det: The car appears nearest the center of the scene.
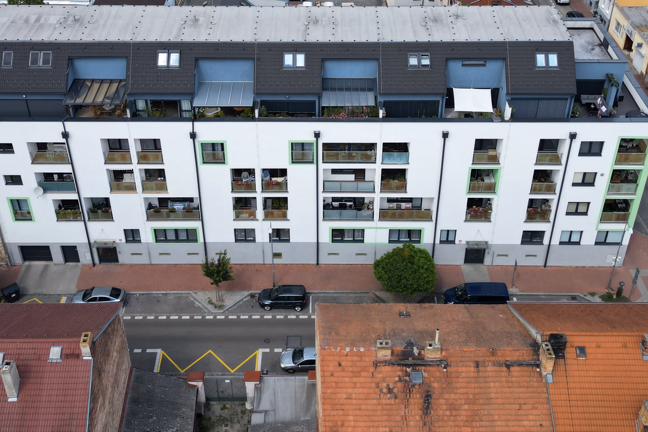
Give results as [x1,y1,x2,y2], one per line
[256,284,313,314]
